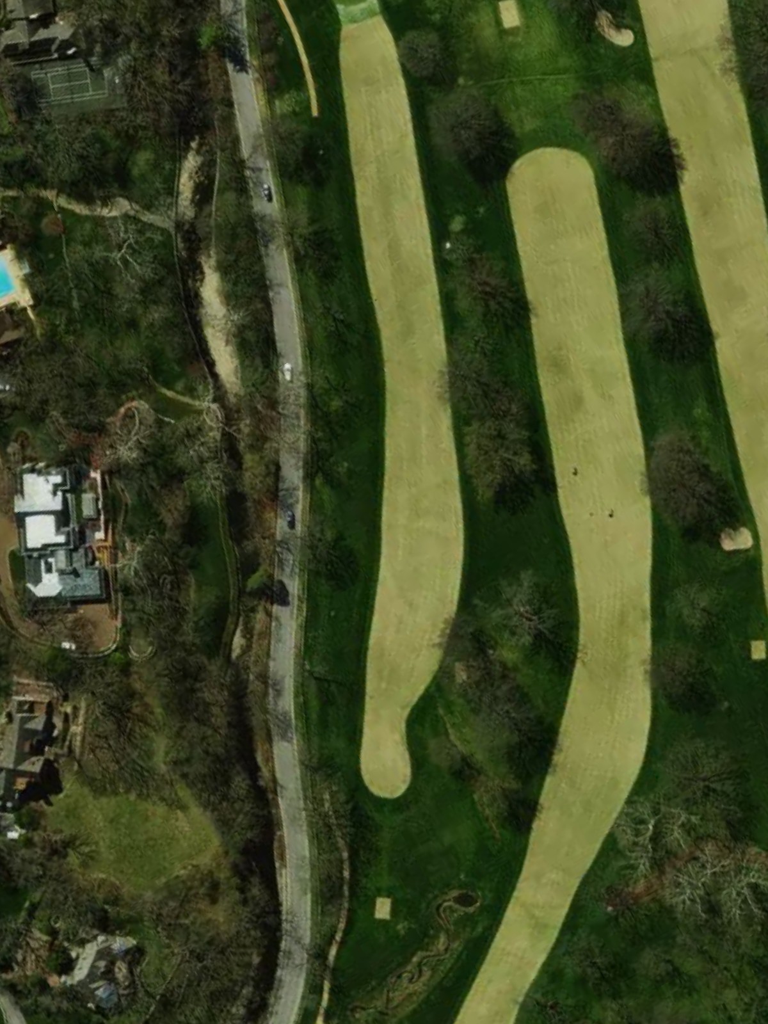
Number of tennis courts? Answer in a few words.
one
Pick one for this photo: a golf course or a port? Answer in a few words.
golf course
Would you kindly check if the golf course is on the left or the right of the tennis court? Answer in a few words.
on its right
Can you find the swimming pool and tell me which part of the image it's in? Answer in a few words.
top left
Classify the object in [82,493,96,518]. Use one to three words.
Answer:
building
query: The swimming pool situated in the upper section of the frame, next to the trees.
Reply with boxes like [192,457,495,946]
[0,245,33,308]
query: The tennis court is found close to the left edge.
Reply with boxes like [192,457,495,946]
[14,49,133,119]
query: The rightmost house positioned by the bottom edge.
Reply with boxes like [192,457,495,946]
[61,934,136,1008]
